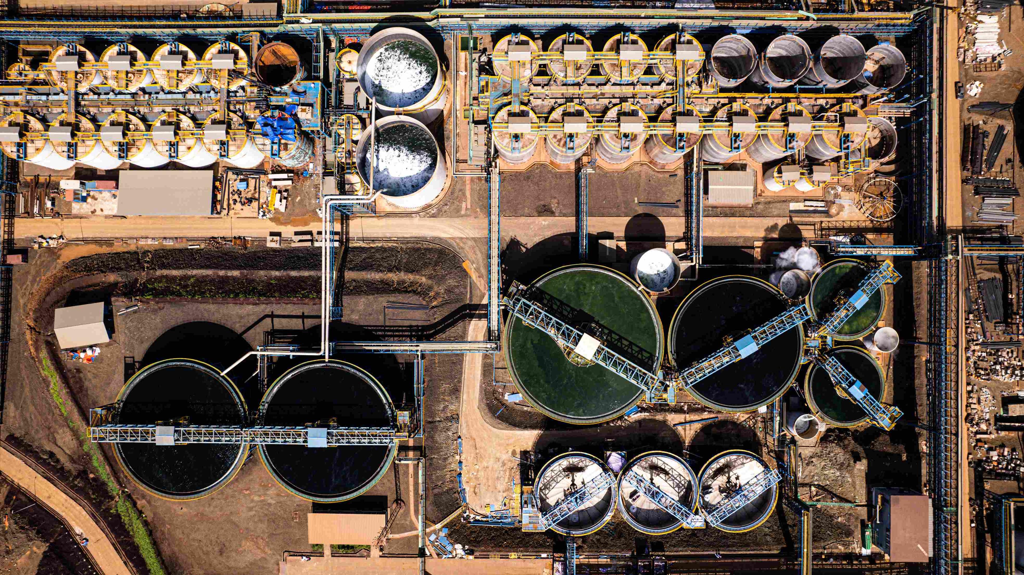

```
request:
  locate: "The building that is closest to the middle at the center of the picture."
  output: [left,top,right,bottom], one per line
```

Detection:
[598,239,616,262]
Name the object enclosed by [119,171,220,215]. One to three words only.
building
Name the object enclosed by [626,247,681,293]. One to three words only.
storage tank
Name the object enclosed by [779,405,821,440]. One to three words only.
storage tank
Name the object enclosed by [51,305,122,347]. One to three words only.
building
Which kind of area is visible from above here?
industrial area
